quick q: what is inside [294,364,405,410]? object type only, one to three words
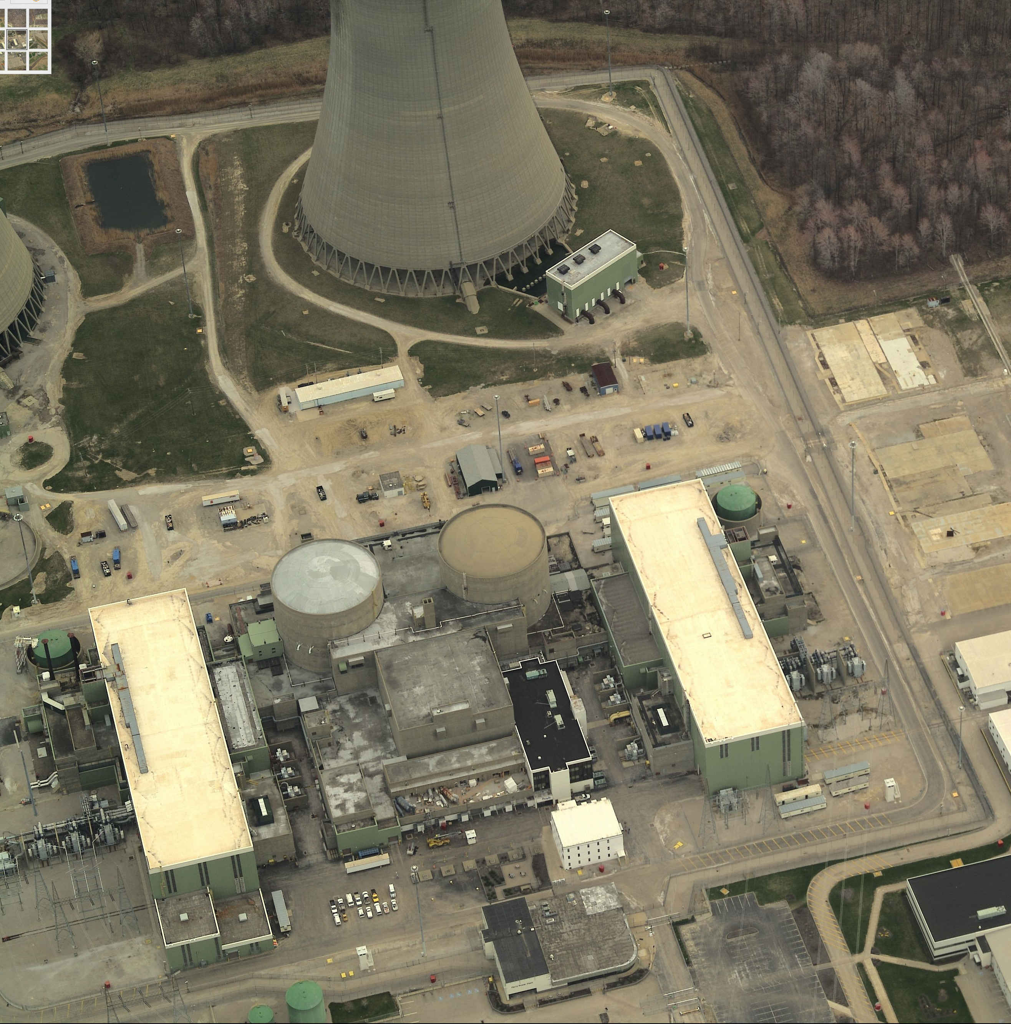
shed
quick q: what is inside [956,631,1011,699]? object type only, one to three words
building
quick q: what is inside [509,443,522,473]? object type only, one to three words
vehicle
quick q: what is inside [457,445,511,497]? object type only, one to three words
barn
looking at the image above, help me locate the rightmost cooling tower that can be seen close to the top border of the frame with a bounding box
[293,0,578,297]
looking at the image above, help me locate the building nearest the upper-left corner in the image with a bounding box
[34,264,62,288]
